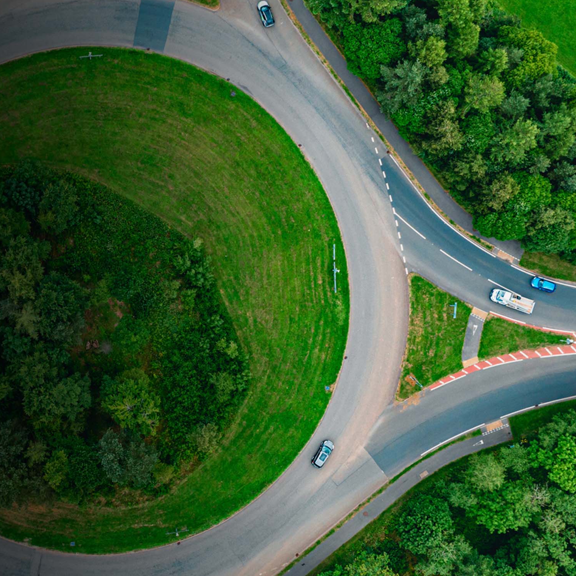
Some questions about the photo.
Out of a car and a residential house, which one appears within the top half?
car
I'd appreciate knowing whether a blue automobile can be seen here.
Yes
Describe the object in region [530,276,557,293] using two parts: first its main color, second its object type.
blue car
